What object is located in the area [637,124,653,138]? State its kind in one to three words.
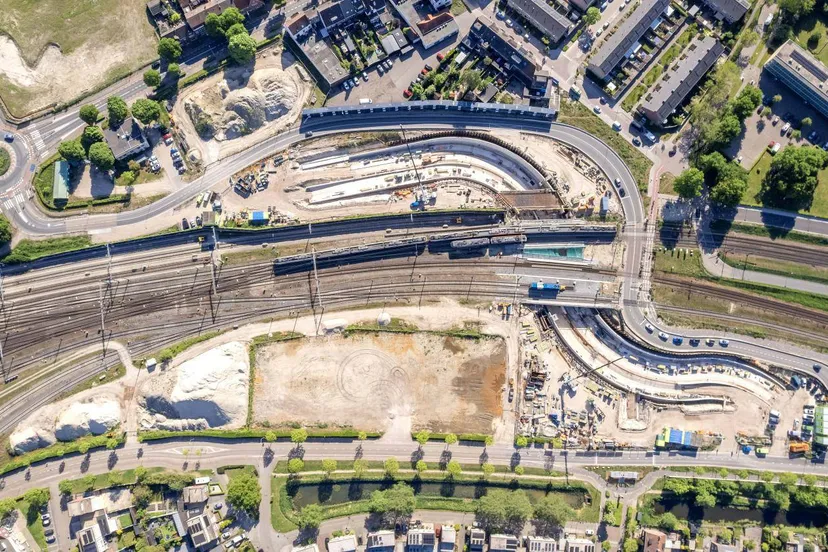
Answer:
vehicle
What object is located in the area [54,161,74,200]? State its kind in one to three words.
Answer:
shed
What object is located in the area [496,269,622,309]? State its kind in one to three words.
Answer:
bridge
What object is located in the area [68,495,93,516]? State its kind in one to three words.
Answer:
house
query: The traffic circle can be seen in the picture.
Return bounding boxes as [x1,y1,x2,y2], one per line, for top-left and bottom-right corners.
[0,120,36,202]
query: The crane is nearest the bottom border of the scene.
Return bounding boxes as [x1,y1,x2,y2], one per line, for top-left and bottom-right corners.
[554,348,626,397]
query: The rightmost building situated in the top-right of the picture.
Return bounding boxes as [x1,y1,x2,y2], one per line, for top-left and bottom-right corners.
[763,39,828,107]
